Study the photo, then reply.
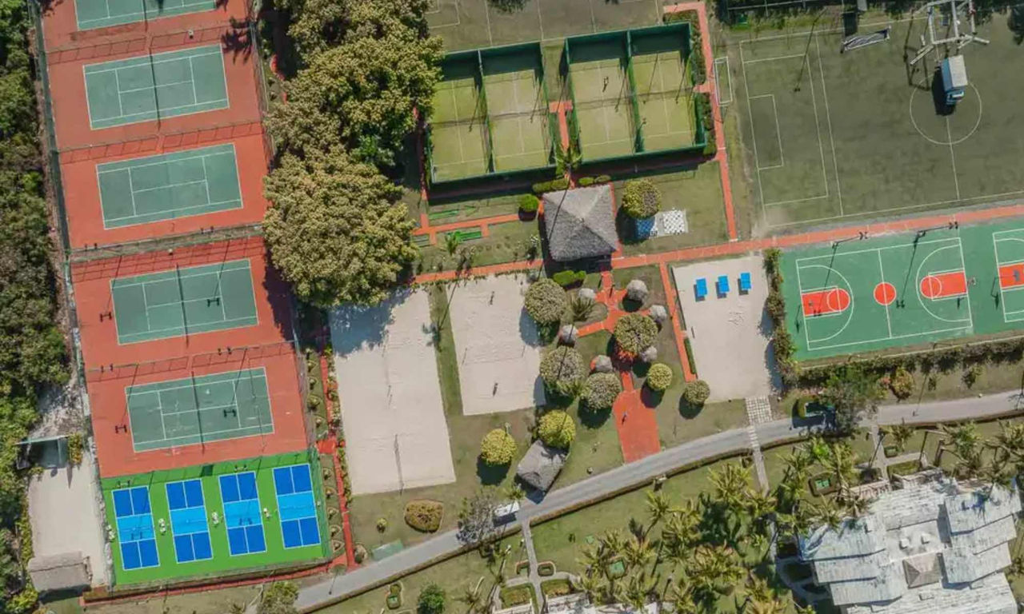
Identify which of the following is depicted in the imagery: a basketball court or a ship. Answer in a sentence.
Looking from above, you can make out a basketball court.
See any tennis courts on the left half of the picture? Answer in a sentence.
Yes, I can see a tennis court on the left half of the picture.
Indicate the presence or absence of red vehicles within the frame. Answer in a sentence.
No, I find no red vehicle anywhere in the image.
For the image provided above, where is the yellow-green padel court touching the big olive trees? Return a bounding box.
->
[428,60,493,180]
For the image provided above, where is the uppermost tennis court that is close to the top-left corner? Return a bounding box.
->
[74,0,217,30]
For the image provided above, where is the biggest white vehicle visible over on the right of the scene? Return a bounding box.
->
[939,55,967,103]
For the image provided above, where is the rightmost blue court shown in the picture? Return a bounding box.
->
[274,464,320,549]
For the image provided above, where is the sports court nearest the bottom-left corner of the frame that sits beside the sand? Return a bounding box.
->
[112,486,159,571]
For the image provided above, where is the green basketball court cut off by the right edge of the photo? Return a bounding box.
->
[992,229,1024,322]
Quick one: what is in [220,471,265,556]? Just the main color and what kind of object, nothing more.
blue sports court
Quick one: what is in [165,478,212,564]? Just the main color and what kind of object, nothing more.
blue sports court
